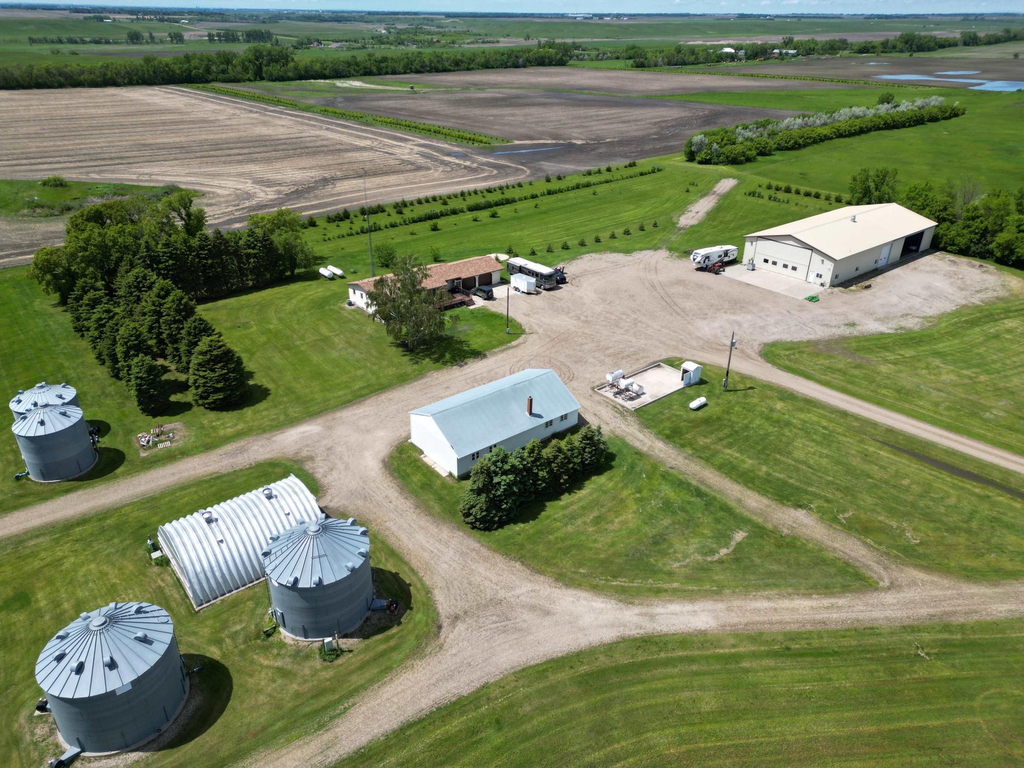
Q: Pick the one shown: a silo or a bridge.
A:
silo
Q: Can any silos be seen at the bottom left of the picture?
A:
Yes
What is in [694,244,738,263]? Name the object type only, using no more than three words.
trailer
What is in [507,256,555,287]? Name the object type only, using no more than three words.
camper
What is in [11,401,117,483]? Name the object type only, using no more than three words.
silo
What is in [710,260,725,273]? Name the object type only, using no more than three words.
vehicle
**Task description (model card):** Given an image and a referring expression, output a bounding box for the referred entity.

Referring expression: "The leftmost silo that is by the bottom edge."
[34,600,194,768]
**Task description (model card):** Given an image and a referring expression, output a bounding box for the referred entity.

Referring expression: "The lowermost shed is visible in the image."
[156,472,323,612]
